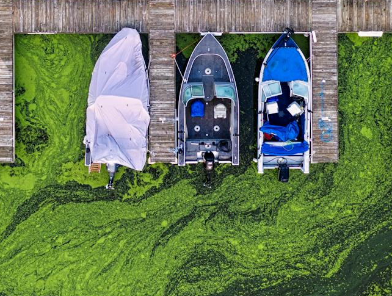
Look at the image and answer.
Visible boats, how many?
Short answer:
3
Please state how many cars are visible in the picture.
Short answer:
0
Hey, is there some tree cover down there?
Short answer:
No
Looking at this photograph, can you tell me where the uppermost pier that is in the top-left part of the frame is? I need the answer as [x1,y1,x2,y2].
[15,0,148,35]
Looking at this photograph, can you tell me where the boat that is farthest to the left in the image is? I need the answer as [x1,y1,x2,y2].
[84,27,150,193]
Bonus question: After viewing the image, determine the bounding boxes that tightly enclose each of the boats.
[84,27,150,193]
[255,26,312,189]
[178,33,240,191]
